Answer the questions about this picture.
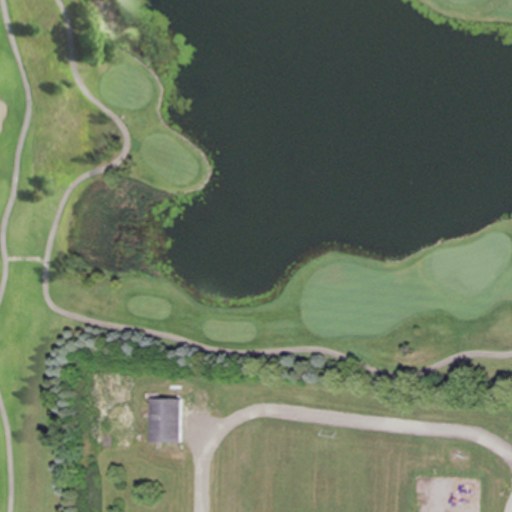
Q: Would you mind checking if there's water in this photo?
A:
Yes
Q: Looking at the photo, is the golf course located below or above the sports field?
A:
above it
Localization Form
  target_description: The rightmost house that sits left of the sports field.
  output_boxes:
[148,398,184,444]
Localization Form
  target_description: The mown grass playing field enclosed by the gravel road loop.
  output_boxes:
[190,418,510,512]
